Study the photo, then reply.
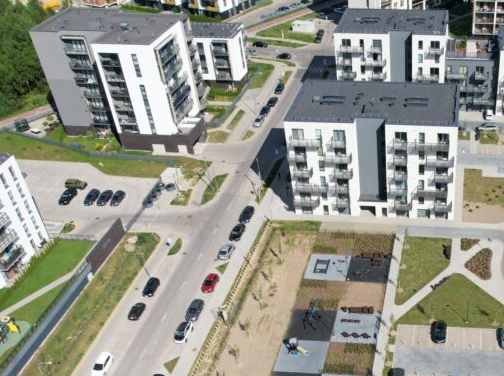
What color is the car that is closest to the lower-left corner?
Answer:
white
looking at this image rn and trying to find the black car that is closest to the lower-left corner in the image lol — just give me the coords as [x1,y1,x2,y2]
[127,301,147,322]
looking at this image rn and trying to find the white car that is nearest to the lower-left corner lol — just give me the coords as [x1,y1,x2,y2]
[90,352,115,376]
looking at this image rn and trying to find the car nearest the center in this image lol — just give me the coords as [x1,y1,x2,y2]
[239,208,254,223]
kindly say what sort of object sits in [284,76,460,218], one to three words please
building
